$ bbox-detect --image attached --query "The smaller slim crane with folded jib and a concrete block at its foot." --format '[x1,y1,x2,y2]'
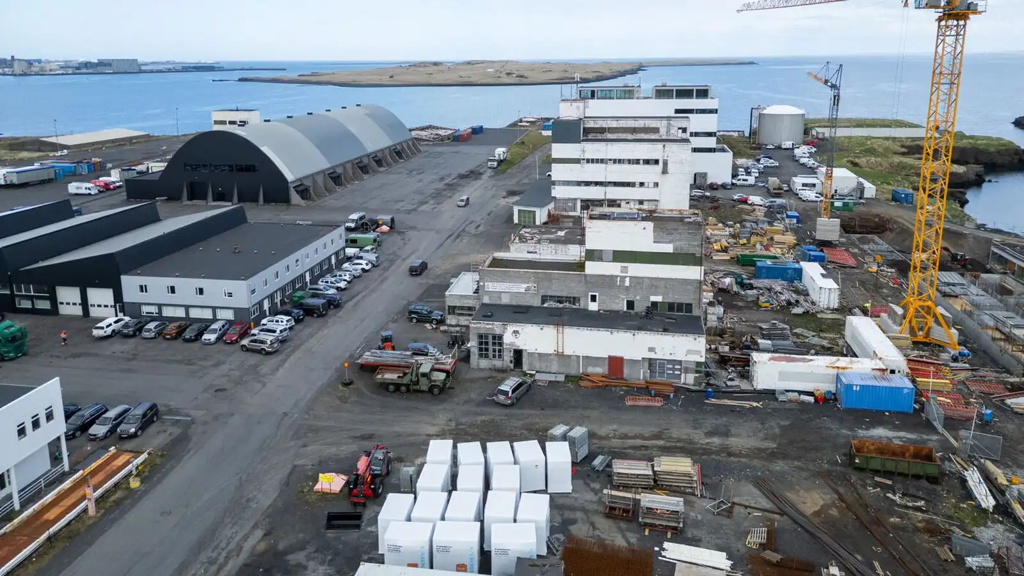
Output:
[803,51,851,246]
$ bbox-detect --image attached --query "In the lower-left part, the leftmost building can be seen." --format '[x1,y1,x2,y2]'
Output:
[0,374,74,522]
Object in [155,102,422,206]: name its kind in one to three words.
hangar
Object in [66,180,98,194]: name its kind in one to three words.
camper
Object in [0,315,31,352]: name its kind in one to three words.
truck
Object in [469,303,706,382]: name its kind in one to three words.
building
